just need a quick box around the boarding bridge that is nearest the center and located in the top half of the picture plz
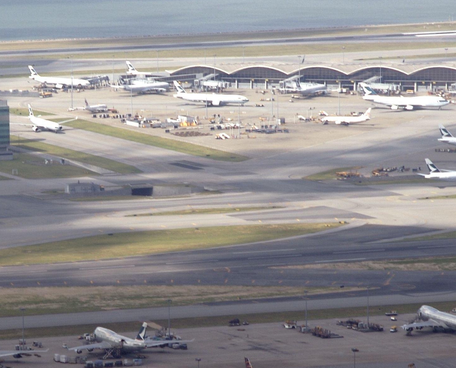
[192,75,233,94]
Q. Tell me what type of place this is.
airport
